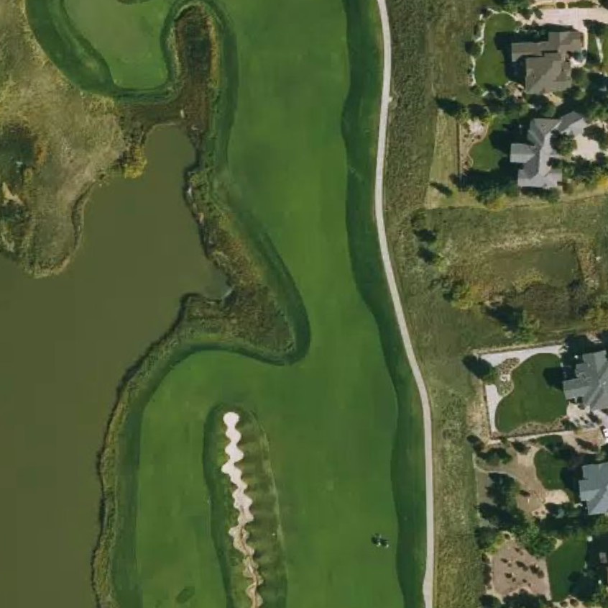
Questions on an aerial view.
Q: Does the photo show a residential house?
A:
Yes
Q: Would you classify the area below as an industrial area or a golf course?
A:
golf course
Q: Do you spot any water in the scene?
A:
Yes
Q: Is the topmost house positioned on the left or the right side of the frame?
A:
right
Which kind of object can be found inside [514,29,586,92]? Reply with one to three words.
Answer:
house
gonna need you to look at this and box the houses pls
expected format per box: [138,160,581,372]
[514,29,586,92]
[581,452,608,517]
[512,107,591,185]
[565,352,608,412]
